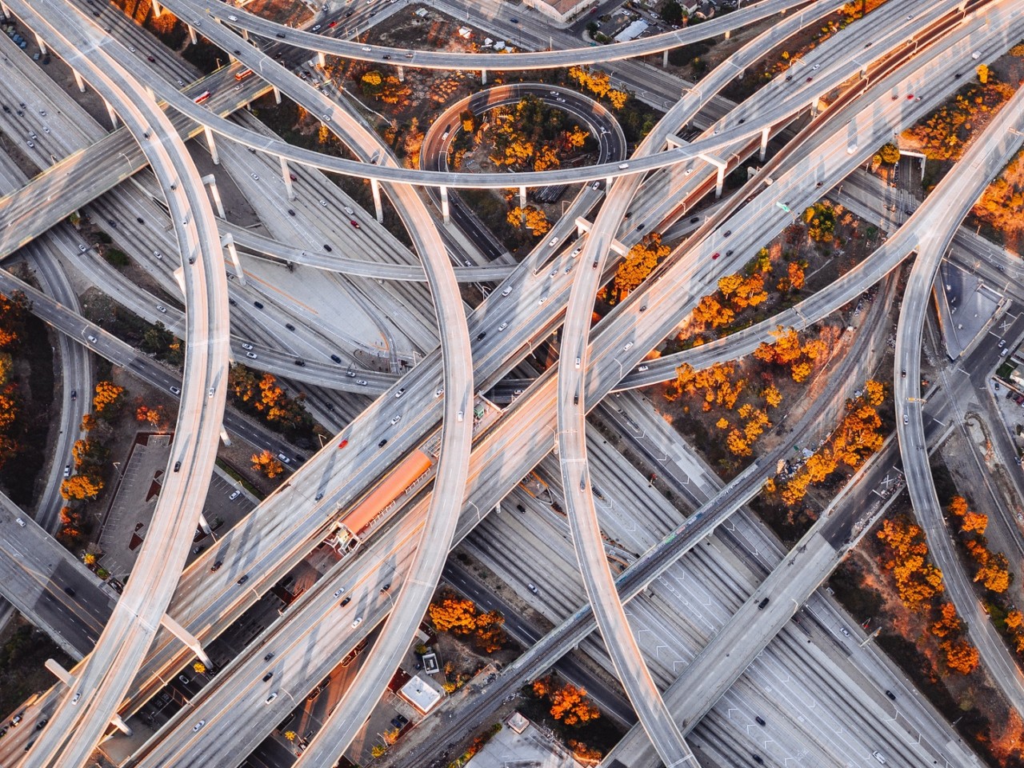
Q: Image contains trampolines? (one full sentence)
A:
No, there isn't any trampoline down there.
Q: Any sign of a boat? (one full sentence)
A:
No, this view has no boat in it.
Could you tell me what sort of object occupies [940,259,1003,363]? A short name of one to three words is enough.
building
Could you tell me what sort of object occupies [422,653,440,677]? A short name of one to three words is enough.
building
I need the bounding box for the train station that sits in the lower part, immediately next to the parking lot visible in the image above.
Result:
[331,428,441,560]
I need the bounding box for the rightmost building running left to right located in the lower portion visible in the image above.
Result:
[466,713,601,768]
